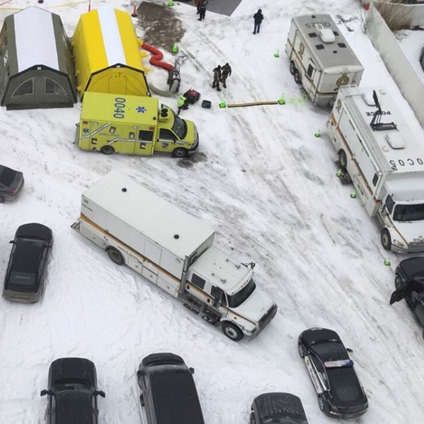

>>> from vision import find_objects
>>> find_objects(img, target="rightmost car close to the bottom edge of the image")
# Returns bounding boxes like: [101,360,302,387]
[302,325,369,422]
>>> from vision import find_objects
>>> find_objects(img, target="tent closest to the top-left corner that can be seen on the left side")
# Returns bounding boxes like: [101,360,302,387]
[0,2,77,112]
